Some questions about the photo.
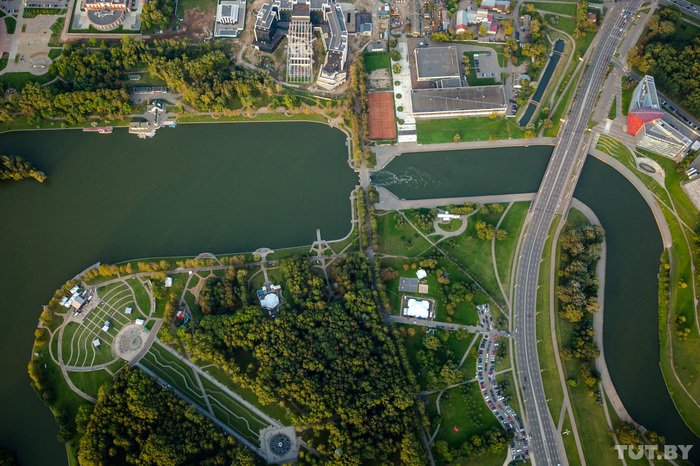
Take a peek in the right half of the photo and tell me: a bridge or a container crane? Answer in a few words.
bridge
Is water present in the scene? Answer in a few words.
Yes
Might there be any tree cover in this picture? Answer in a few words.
Yes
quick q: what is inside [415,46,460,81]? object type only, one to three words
building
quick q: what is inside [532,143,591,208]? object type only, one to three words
bridge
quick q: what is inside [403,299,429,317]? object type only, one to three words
tent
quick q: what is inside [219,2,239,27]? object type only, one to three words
house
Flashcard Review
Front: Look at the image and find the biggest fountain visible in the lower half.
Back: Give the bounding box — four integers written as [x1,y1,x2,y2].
[269,433,291,456]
